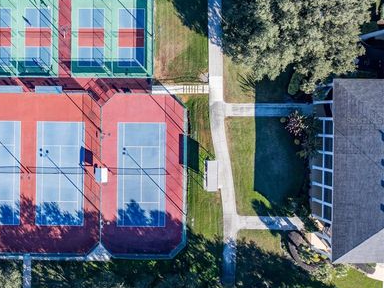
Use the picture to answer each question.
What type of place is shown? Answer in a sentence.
What you see here is a sports ground.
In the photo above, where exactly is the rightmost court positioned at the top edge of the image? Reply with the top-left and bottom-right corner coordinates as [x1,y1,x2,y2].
[111,0,151,76]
